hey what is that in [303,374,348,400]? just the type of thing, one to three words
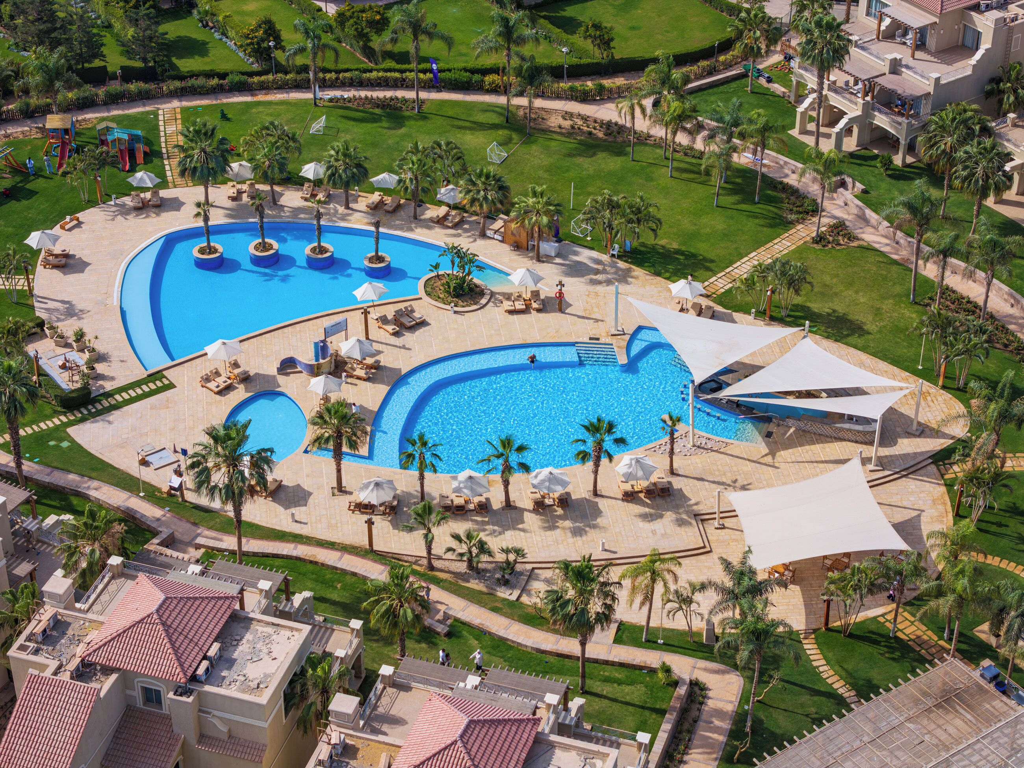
umbrella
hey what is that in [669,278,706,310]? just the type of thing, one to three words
umbrella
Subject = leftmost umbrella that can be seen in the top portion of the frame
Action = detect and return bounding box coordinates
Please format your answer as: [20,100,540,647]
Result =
[22,225,63,259]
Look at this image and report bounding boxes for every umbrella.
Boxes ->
[203,341,245,378]
[444,469,492,511]
[297,164,328,184]
[506,267,547,300]
[368,170,399,204]
[526,465,575,506]
[352,475,403,516]
[669,278,706,310]
[615,453,664,494]
[335,335,376,358]
[303,374,348,400]
[353,286,395,321]
[434,187,465,220]
[22,225,63,259]
[227,160,251,182]
[124,168,162,199]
